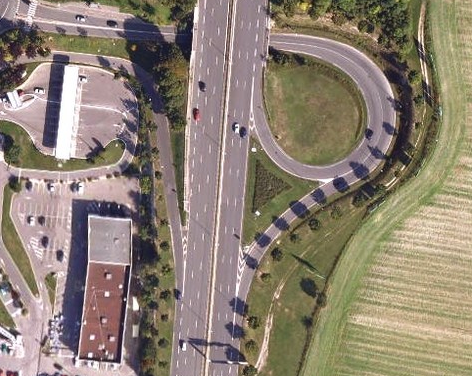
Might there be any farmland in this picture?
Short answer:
Yes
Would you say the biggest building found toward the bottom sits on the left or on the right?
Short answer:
left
